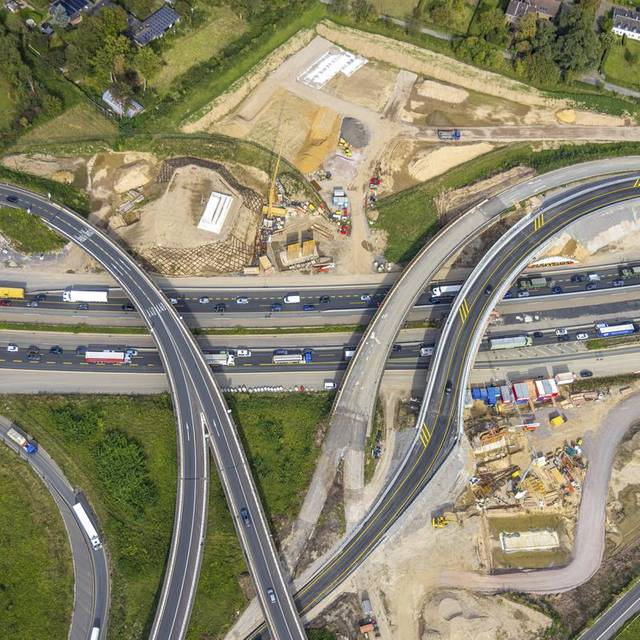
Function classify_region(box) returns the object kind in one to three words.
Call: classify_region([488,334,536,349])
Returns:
vehicle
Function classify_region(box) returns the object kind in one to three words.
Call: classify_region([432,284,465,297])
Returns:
vehicle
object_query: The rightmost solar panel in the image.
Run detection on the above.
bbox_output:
[137,1,182,41]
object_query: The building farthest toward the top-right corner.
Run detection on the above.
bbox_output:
[608,9,640,41]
